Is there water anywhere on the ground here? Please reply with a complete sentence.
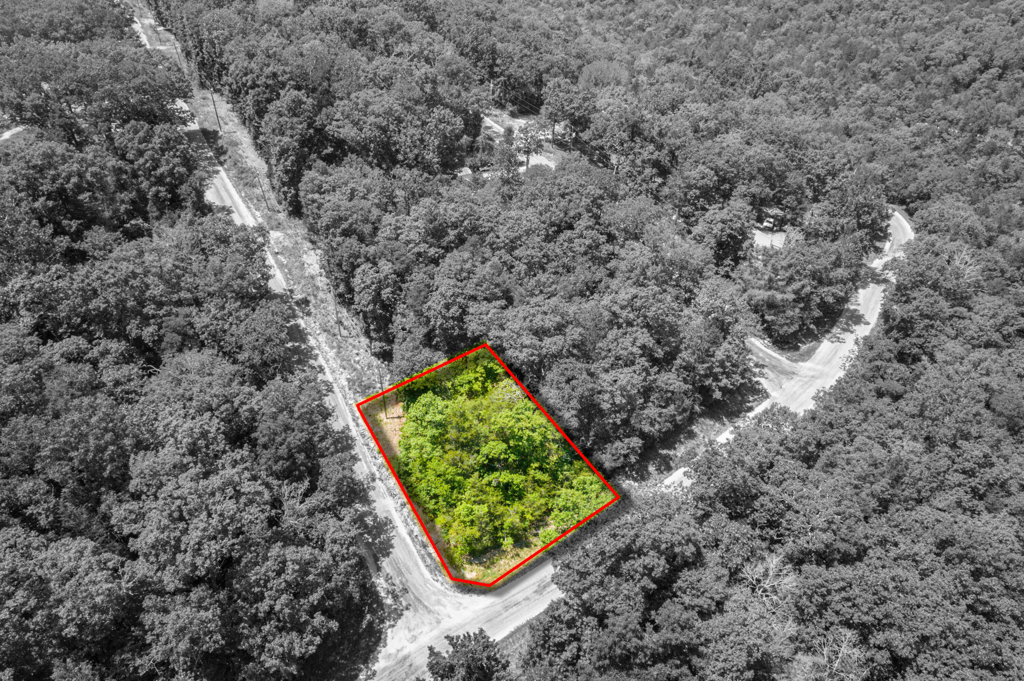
No, there is no water in the image.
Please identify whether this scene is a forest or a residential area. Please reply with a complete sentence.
The picture captures a forest.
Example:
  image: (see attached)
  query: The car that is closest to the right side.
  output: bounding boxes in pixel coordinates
[760,208,774,228]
